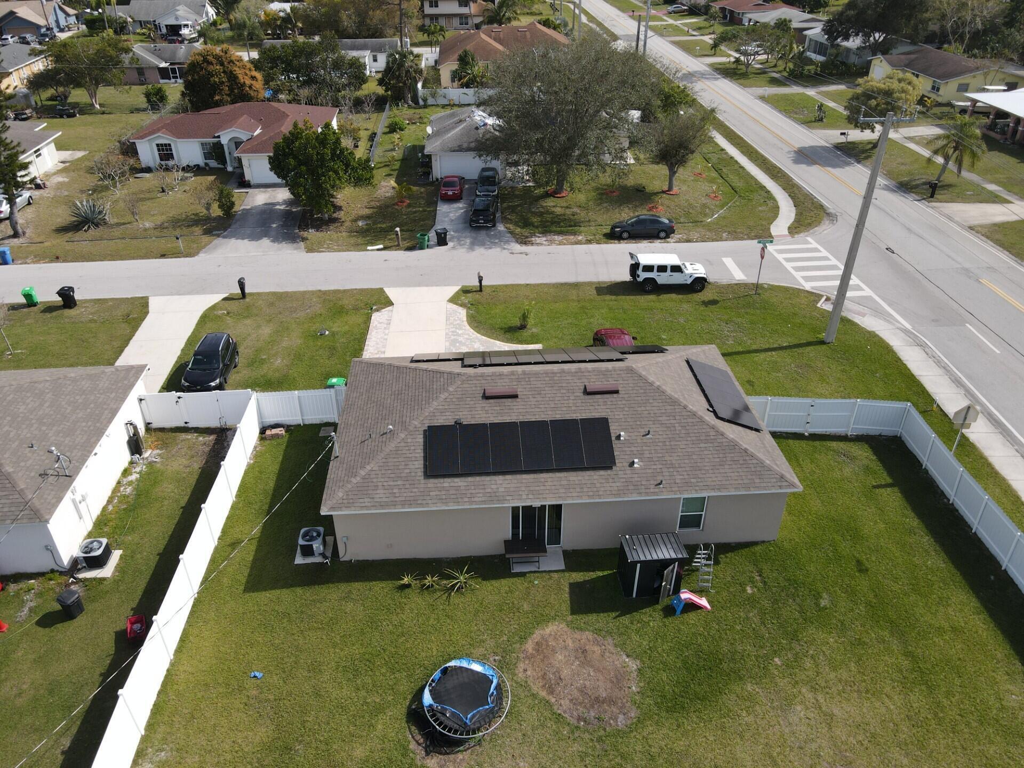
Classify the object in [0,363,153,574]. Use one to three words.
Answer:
house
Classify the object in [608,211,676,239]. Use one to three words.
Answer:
car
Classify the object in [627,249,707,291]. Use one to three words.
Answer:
car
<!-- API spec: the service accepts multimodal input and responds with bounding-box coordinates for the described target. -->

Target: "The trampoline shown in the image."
[415,658,512,758]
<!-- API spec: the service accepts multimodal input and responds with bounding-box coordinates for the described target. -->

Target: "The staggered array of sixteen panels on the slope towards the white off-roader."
[413,345,671,366]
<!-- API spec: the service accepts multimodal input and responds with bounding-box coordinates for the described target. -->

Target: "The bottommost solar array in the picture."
[426,419,617,478]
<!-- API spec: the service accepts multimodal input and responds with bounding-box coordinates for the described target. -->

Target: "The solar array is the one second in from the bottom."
[687,357,765,434]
